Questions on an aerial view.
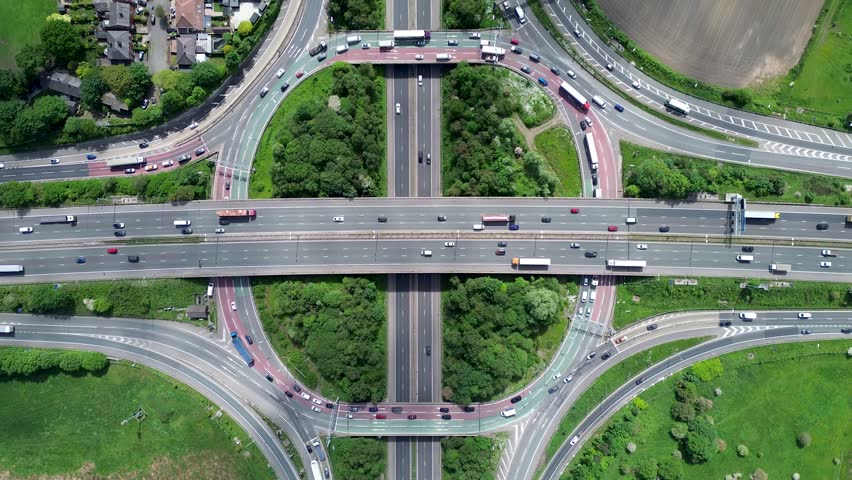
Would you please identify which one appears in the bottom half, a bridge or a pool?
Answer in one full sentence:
Looking in the bottom half, you will find a bridge.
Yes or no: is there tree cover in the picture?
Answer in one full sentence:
Yes, tree cover can be seen from above here.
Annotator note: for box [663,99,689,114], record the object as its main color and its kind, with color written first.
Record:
white vehicle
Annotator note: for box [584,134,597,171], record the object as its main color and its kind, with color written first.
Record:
white vehicle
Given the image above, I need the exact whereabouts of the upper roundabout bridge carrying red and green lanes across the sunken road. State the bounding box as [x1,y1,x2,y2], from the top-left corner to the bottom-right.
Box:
[349,30,478,66]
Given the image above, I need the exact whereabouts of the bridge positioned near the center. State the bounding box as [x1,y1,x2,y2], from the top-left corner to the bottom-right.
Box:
[185,196,646,277]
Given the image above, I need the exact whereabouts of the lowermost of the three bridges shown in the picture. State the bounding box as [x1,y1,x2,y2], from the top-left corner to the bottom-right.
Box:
[353,402,476,438]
